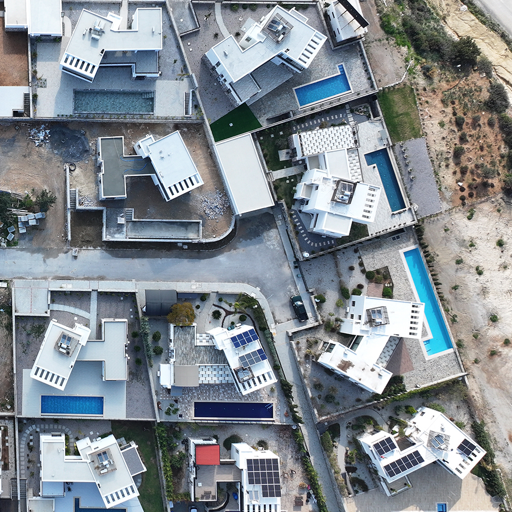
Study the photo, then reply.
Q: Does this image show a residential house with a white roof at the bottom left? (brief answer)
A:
Yes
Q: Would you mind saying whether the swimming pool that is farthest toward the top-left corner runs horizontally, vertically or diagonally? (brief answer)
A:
horizontally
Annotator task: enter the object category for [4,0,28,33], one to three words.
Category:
building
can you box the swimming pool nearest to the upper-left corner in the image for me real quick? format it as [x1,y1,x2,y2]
[73,88,156,115]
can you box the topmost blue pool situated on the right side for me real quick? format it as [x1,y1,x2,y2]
[292,62,354,109]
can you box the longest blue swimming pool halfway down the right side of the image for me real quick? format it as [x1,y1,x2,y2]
[400,245,454,359]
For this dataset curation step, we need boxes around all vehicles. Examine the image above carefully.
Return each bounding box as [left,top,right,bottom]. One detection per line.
[188,506,199,512]
[292,294,310,323]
